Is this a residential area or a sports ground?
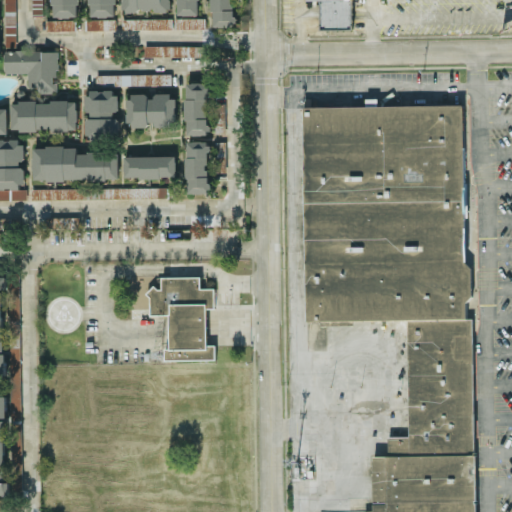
residential area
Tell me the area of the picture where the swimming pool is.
top left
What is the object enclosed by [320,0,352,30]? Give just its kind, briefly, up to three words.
building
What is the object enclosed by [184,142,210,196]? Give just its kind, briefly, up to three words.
house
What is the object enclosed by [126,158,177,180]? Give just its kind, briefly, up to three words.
house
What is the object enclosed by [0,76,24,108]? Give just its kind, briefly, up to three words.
swimming pool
